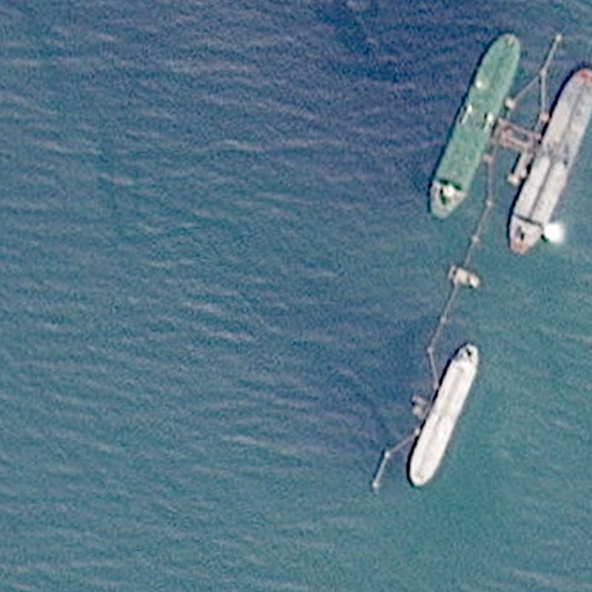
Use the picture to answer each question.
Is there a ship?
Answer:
Yes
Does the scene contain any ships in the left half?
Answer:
No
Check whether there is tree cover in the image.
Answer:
No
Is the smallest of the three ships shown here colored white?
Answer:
Yes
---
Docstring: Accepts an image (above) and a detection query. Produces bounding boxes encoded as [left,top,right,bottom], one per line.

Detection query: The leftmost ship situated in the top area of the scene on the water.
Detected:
[429,33,520,219]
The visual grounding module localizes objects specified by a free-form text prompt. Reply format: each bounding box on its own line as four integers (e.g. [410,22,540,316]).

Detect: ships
[429,33,520,219]
[510,68,592,255]
[410,342,480,487]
